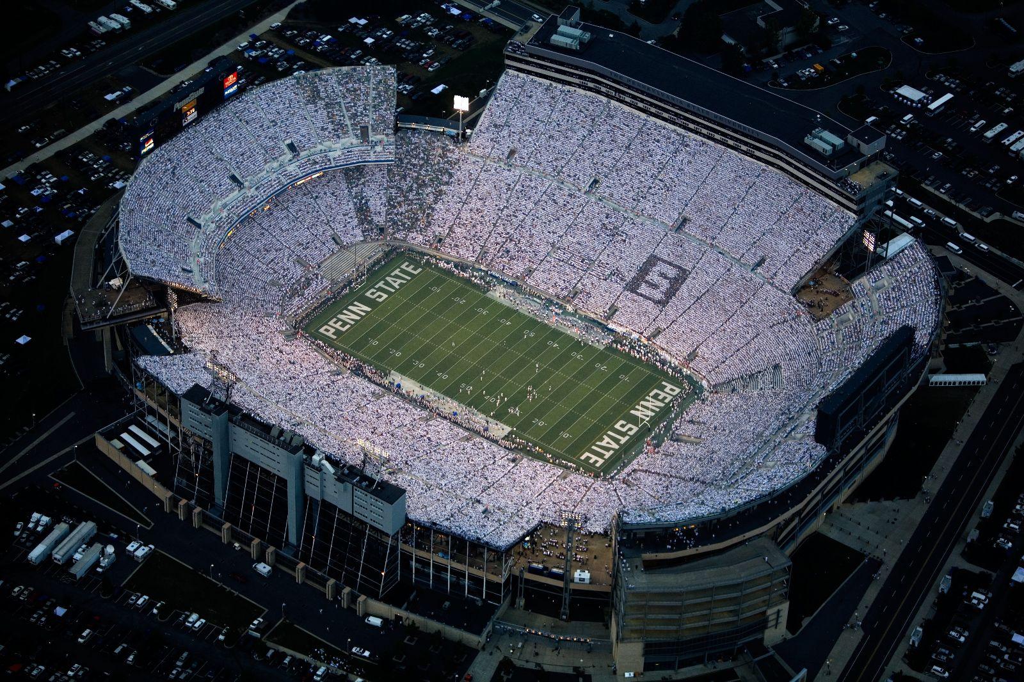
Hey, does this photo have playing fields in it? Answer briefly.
Yes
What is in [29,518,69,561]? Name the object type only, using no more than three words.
trailer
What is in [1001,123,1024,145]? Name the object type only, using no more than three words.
bus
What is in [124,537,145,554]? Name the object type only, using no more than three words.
vehicle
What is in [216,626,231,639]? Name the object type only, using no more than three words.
vehicle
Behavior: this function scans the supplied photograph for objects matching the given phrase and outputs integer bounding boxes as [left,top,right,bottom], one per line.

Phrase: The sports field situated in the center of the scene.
[305,254,693,476]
